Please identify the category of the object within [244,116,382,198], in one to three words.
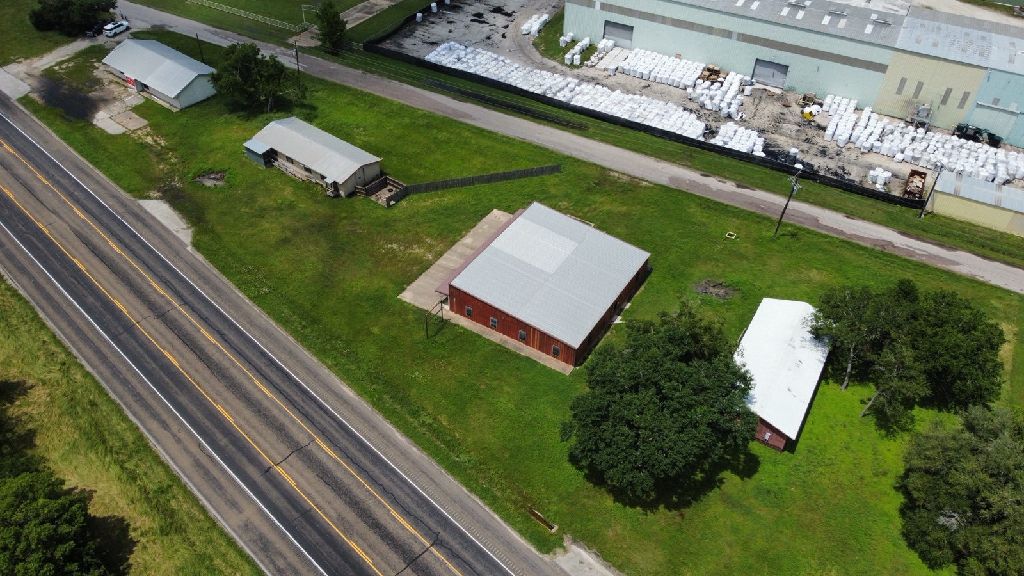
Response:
house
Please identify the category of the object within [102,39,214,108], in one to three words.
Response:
building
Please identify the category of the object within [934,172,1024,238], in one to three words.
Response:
shed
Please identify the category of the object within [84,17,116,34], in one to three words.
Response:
vehicle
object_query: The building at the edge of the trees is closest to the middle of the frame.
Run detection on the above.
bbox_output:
[435,199,650,366]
